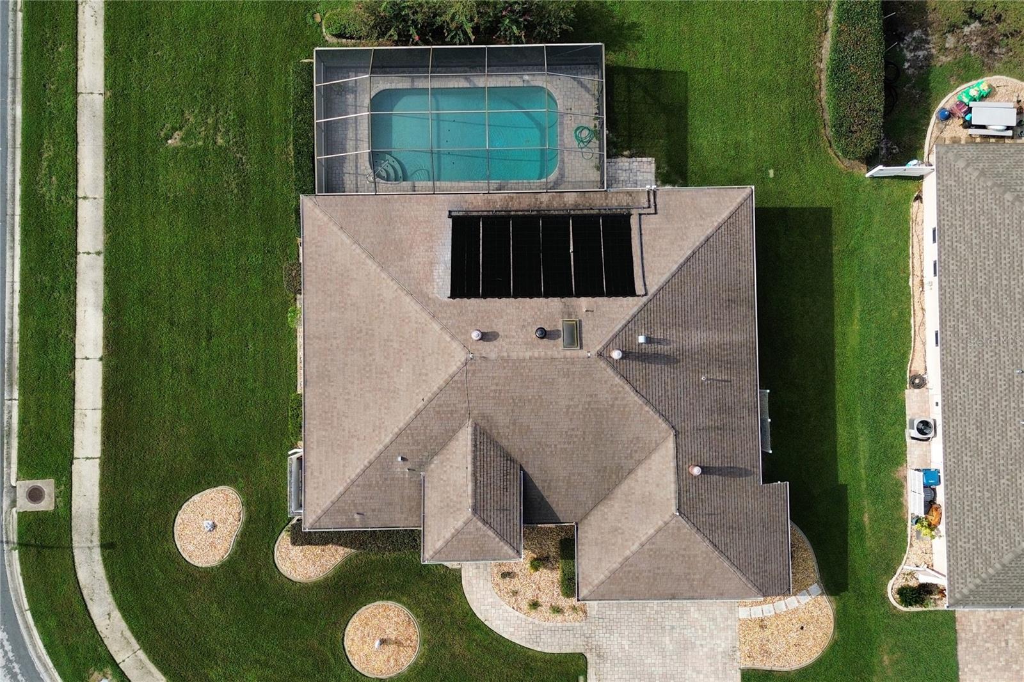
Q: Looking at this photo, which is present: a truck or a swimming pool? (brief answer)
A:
swimming pool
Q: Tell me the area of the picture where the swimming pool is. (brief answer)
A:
top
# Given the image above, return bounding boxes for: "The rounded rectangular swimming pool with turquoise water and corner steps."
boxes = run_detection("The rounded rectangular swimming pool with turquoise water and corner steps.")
[364,80,565,188]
